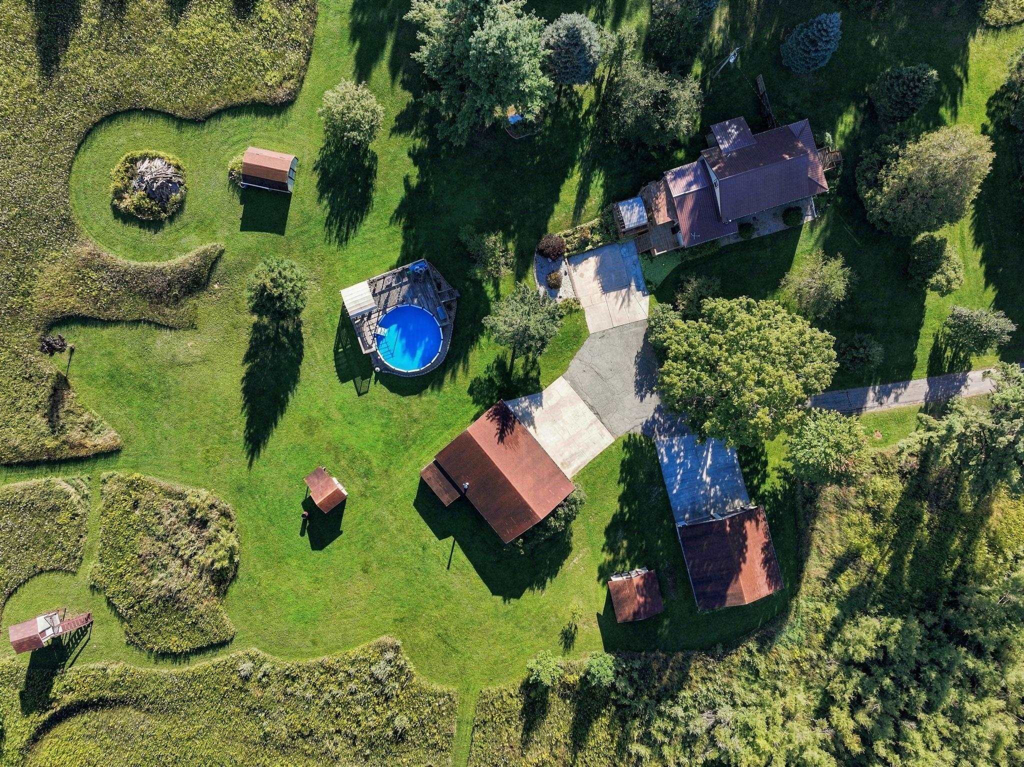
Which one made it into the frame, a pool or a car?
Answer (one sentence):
This aerial view contains a pool.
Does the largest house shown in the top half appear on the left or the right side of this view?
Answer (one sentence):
It is on the right.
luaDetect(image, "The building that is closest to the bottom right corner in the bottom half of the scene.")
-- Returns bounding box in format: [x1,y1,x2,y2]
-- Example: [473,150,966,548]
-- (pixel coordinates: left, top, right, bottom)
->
[676,504,784,610]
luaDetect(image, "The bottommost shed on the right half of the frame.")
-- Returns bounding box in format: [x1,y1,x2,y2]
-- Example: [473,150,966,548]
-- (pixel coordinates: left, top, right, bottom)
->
[607,566,664,622]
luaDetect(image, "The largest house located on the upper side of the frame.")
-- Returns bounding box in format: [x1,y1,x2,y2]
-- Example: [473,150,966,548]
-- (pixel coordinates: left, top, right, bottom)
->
[661,117,829,252]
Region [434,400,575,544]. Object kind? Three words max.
building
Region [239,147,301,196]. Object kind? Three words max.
shed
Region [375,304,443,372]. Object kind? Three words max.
swimming pool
